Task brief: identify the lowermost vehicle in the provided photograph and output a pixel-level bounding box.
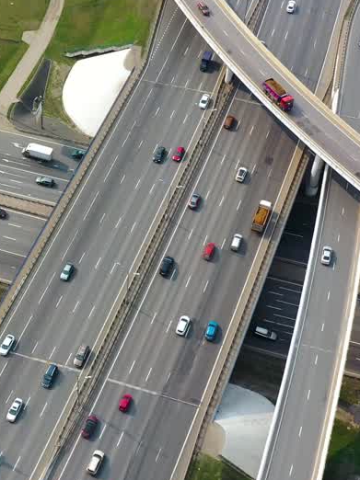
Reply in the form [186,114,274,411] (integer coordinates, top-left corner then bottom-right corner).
[86,451,105,477]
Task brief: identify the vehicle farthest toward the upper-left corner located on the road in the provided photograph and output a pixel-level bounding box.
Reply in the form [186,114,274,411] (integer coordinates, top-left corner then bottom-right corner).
[23,142,52,159]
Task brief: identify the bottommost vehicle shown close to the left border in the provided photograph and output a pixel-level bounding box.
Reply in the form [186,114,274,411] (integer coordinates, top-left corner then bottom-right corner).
[7,399,24,422]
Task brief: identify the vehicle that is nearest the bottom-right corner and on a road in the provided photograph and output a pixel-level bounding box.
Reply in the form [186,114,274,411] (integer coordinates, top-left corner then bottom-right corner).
[253,326,276,342]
